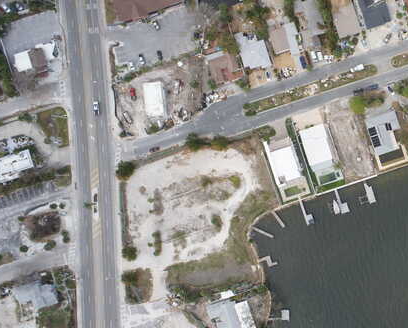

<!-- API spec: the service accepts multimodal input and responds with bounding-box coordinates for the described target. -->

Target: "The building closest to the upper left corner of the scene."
[14,43,58,73]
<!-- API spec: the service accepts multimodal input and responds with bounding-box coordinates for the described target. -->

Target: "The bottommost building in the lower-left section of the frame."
[14,281,61,309]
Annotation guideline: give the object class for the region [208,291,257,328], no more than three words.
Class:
house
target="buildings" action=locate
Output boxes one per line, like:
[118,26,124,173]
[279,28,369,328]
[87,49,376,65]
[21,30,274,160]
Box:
[143,80,166,117]
[111,0,187,25]
[271,146,303,185]
[301,125,333,167]
[366,112,400,155]
[0,150,37,180]
[208,291,257,328]
[295,0,326,36]
[270,24,301,56]
[14,281,61,309]
[238,32,271,69]
[14,43,58,73]
[330,0,357,38]
[204,51,245,84]
[359,0,391,29]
